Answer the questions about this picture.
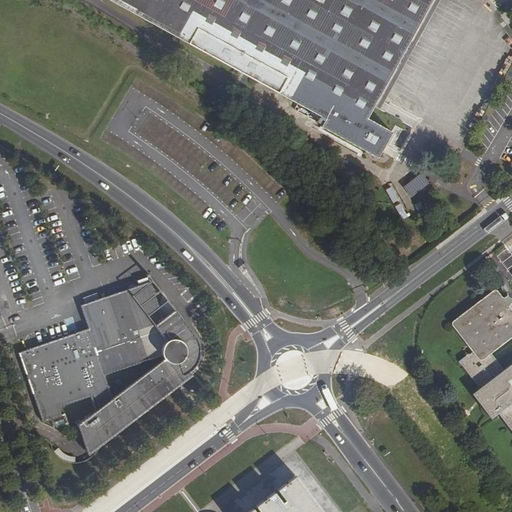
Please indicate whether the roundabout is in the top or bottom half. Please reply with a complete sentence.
It is in the bottom half that the roundabout appears.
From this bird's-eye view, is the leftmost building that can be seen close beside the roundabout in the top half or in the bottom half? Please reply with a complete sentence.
The leftmost building that can be seen close beside the roundabout is in the bottom half of the image.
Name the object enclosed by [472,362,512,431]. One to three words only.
building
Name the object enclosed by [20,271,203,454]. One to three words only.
building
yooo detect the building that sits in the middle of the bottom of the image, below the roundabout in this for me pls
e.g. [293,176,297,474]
[252,474,328,512]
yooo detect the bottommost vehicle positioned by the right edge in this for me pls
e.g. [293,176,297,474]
[484,214,508,233]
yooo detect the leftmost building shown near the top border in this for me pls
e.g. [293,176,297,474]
[115,0,438,160]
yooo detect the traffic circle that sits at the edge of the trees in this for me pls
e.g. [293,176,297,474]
[226,308,362,444]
